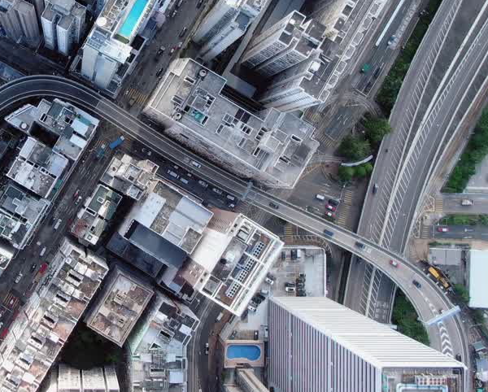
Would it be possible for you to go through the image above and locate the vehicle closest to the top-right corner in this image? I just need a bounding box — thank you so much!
[385,32,401,49]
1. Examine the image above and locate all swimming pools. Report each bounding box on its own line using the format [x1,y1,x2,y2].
[228,345,261,361]
[119,0,146,38]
